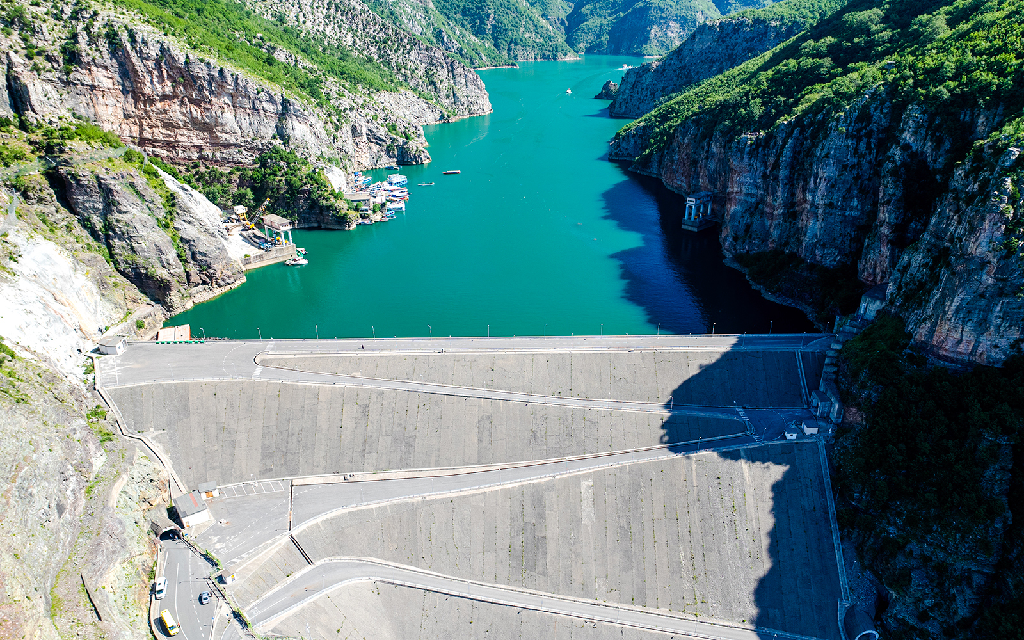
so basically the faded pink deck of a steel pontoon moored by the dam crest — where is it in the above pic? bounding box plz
[157,323,191,339]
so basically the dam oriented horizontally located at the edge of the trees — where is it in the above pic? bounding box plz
[98,330,860,640]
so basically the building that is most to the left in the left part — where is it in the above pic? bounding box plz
[94,335,126,355]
